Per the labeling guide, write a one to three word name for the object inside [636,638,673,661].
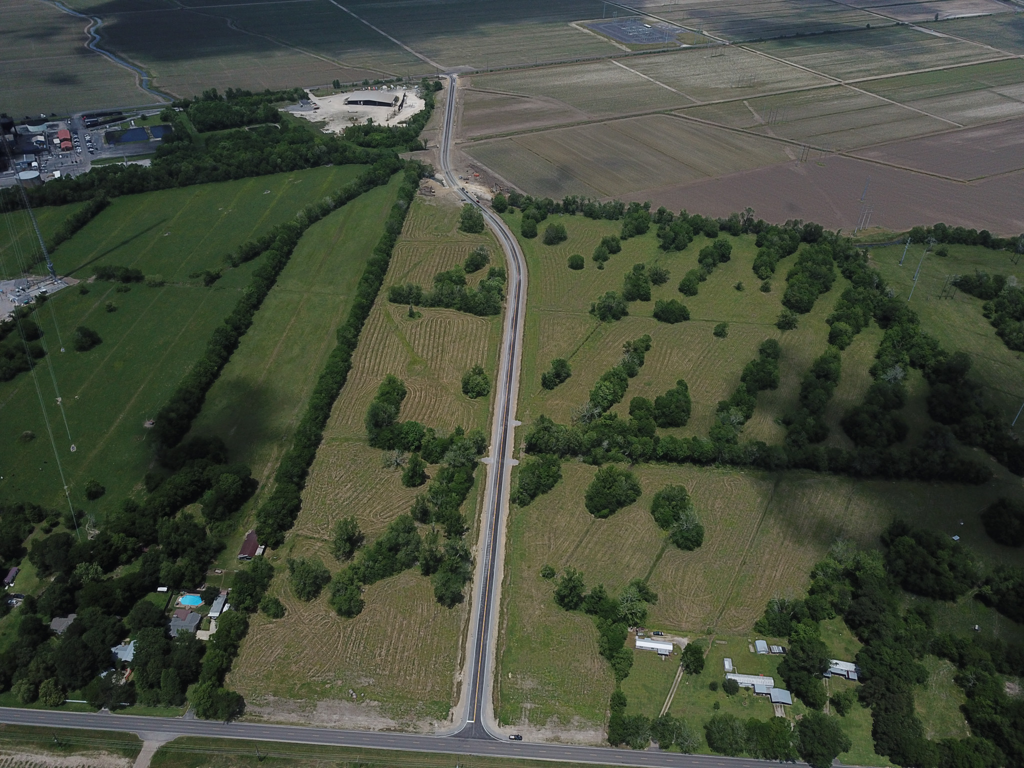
house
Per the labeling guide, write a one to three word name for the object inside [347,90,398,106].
building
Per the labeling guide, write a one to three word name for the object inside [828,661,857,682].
house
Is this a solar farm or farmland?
farmland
